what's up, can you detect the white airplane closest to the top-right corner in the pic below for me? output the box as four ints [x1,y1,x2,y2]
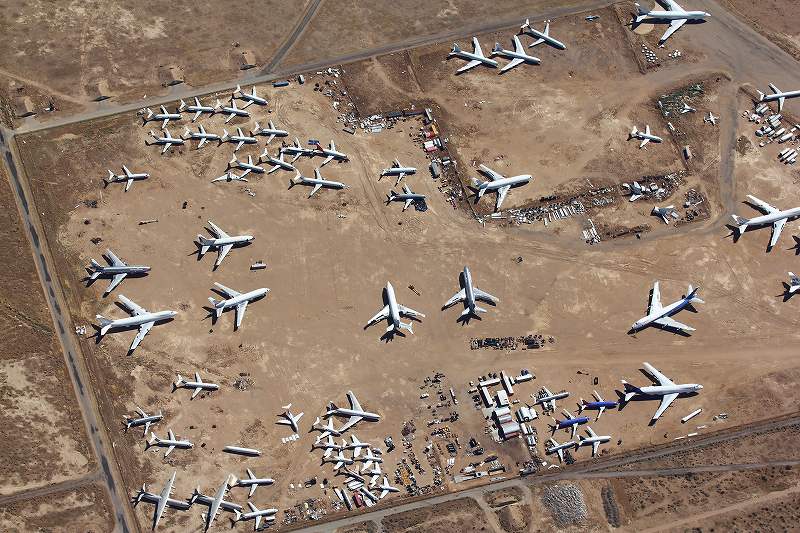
[761,84,800,113]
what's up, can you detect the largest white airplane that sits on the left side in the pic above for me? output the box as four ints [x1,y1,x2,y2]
[98,295,178,350]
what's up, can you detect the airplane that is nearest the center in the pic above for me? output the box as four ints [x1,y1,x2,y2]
[368,281,424,330]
